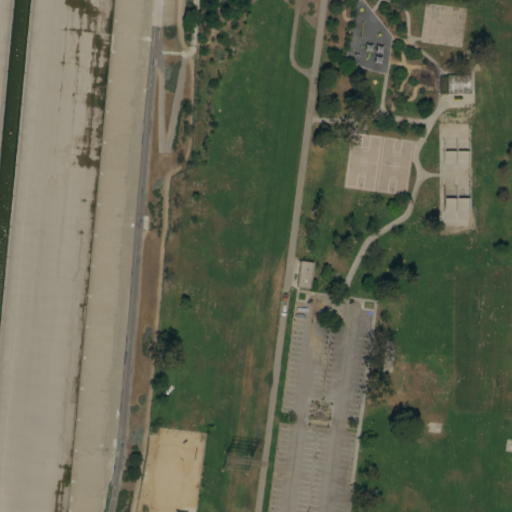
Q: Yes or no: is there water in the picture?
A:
Yes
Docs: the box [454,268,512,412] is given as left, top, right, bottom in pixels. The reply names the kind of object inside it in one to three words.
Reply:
sports field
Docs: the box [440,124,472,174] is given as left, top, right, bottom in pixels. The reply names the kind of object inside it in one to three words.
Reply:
sports court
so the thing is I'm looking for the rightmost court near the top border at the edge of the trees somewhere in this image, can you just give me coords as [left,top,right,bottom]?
[422,4,466,46]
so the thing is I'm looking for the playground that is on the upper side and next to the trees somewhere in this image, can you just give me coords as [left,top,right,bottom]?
[352,0,392,76]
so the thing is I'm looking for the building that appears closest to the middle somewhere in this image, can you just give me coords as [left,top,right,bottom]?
[299,261,316,290]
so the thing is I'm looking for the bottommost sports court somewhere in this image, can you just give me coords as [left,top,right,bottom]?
[440,174,472,226]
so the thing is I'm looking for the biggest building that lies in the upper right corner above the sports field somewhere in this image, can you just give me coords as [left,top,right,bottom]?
[450,76,474,94]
